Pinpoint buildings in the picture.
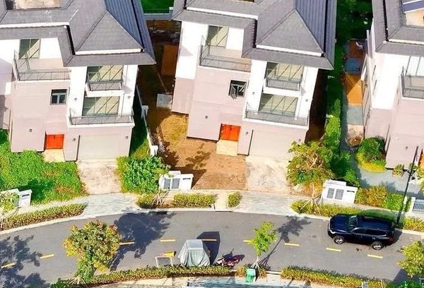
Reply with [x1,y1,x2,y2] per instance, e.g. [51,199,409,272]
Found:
[360,0,424,169]
[172,0,338,159]
[0,0,157,163]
